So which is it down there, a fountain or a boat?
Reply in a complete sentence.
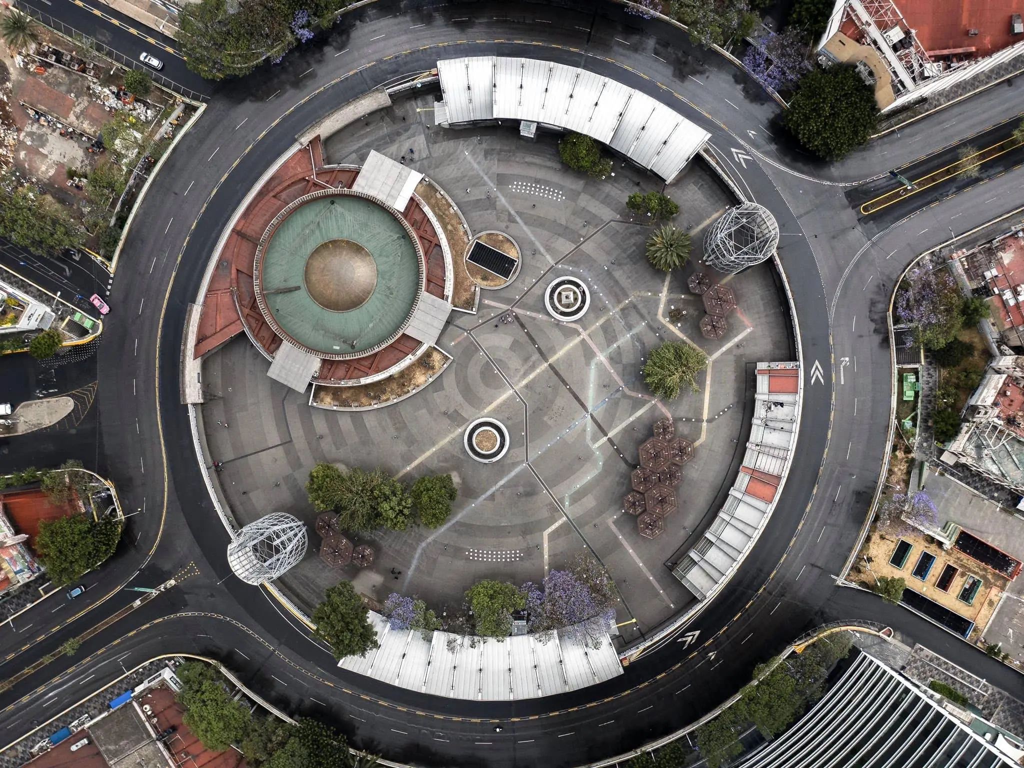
It is a fountain that can be seen here.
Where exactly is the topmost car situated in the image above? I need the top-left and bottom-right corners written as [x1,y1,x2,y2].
[138,51,162,69]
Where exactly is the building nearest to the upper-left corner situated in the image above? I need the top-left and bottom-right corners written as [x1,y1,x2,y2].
[0,282,56,335]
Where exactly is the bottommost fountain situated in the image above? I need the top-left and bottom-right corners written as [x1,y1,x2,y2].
[465,418,508,462]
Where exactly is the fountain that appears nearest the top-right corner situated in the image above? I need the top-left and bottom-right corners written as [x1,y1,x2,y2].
[546,277,589,320]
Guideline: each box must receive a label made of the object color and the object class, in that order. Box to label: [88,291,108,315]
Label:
pink car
